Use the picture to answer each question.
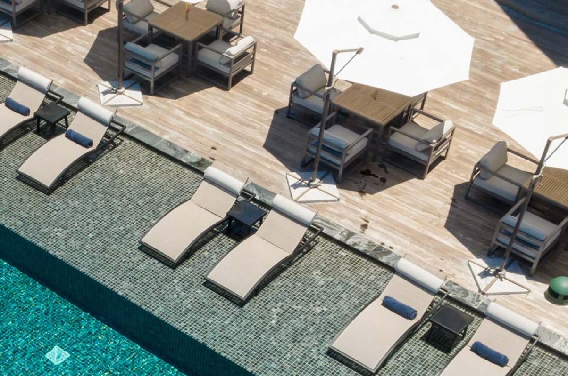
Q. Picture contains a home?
No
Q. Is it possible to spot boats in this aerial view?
No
